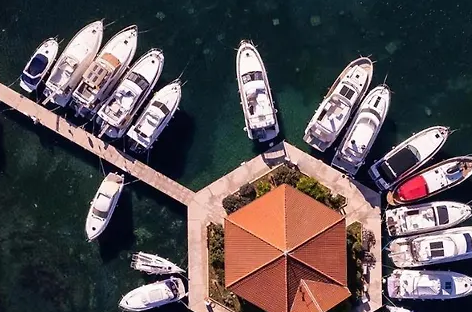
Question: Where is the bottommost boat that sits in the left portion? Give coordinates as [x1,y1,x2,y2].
[116,278,191,311]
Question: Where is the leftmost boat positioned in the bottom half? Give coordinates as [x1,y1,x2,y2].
[83,158,140,242]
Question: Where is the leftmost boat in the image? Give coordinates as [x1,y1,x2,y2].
[10,32,66,97]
